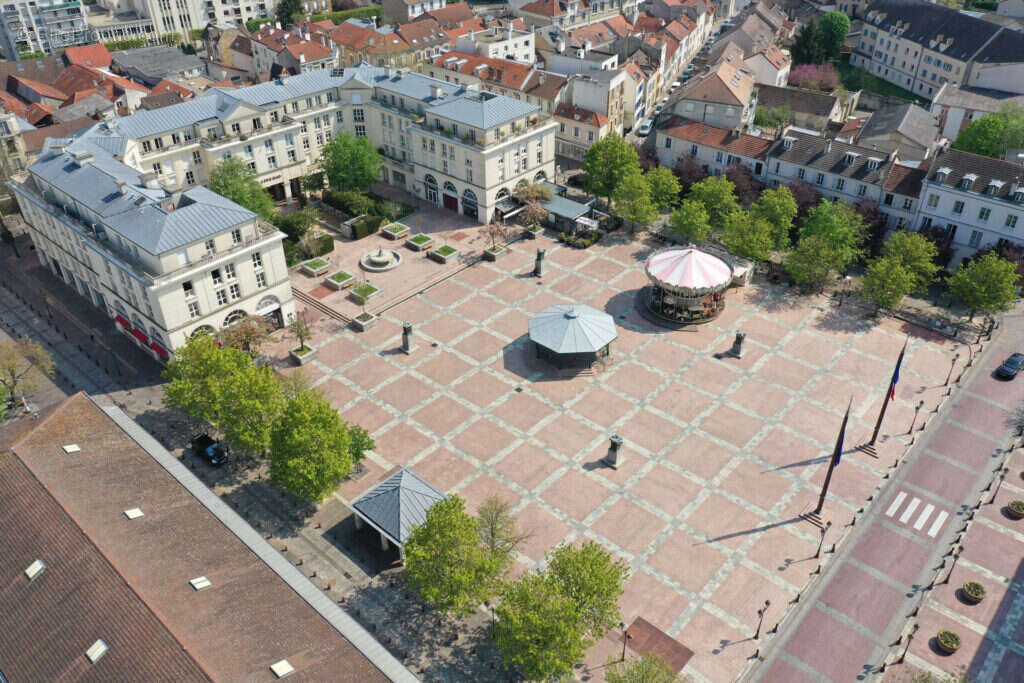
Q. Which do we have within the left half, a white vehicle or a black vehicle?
black vehicle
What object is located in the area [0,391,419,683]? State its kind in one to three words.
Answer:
building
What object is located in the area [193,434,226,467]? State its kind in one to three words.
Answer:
car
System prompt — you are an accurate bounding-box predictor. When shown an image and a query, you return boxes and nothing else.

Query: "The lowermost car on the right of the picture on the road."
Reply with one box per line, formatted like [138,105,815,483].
[997,354,1024,383]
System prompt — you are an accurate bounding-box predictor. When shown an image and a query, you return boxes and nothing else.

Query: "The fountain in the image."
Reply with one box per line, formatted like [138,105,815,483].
[361,249,403,272]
